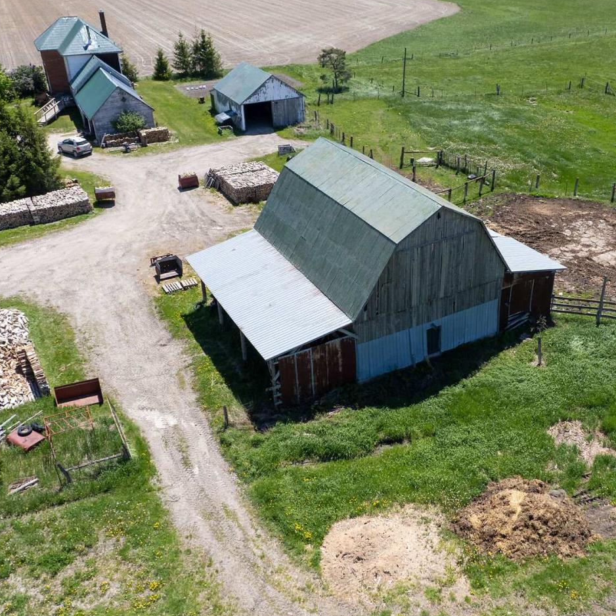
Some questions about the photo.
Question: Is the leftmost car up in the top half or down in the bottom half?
top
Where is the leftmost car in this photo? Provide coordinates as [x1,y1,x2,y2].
[59,134,91,155]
